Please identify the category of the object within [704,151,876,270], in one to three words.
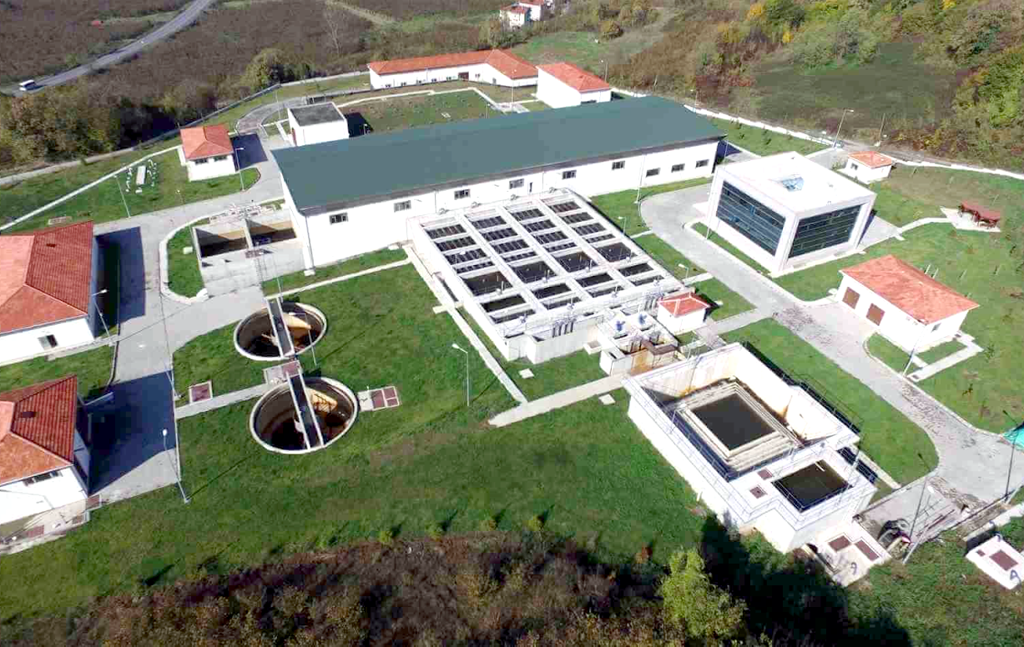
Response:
building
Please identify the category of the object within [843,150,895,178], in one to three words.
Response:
building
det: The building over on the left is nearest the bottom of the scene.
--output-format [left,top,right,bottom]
[0,370,106,522]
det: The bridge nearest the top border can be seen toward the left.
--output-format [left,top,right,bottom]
[267,298,296,357]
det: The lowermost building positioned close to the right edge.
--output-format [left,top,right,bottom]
[832,254,981,349]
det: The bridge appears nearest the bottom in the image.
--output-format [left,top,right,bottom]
[289,372,325,449]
